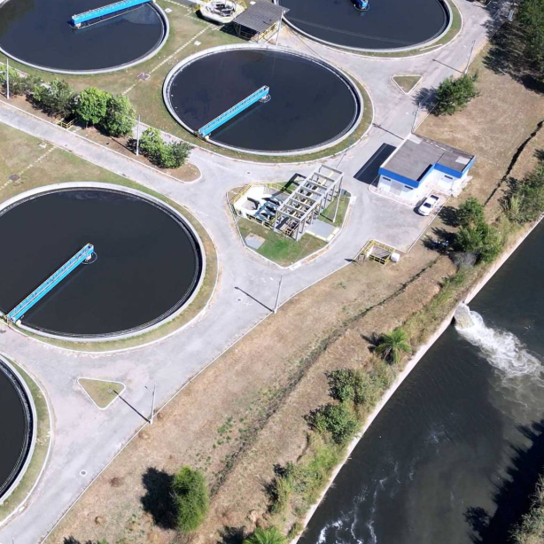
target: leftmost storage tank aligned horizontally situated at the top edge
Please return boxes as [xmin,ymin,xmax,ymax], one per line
[0,0,170,74]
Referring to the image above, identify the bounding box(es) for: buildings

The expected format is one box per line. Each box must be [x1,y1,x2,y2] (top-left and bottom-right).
[377,132,474,203]
[233,0,289,51]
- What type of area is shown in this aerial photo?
industrial area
